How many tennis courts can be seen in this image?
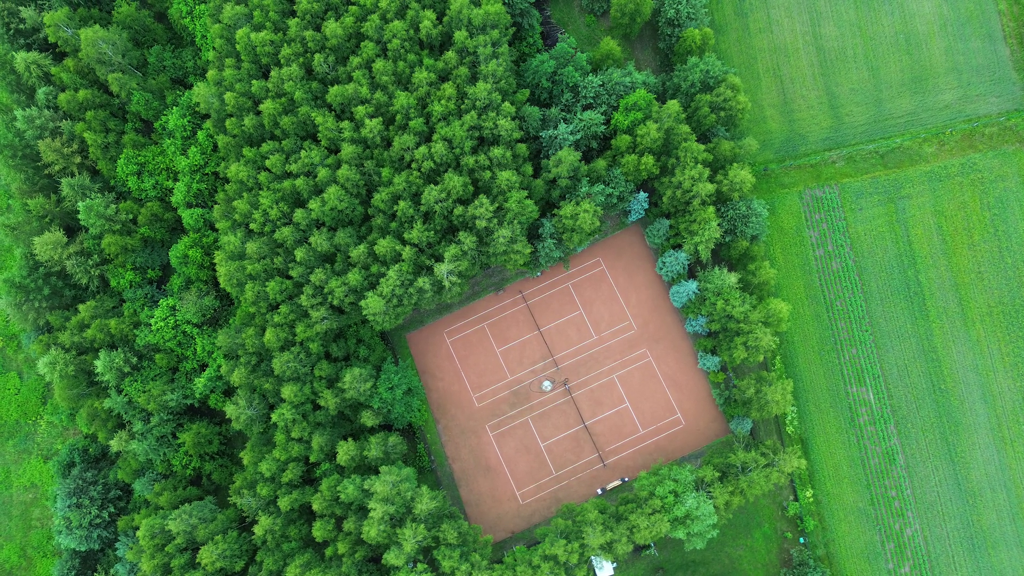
2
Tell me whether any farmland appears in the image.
Yes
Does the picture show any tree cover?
Yes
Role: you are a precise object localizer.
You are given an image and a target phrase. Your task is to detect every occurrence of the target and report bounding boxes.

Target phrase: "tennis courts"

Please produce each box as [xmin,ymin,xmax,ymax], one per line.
[407,225,683,436]
[439,321,728,542]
